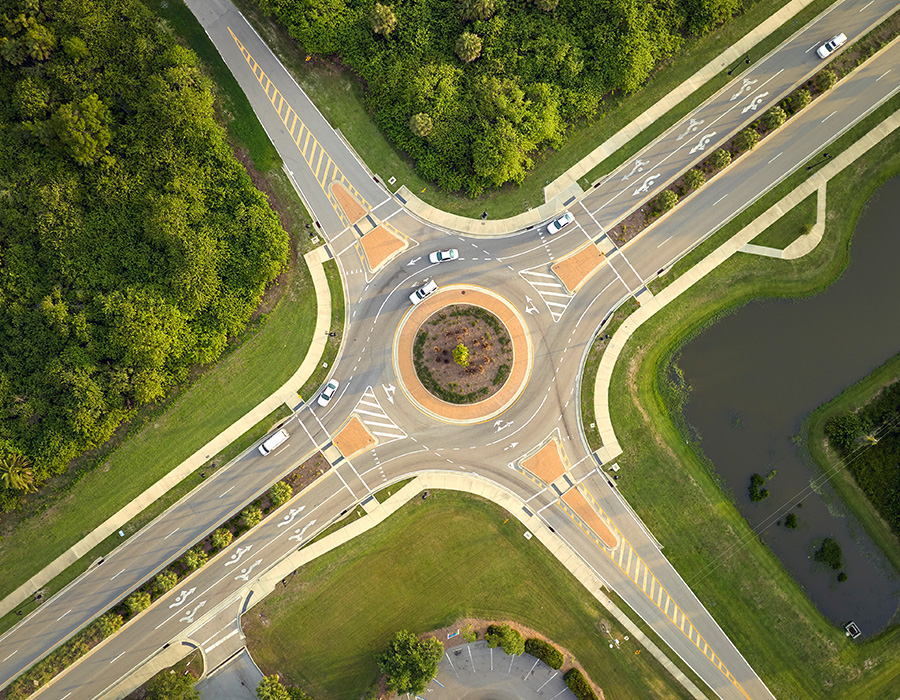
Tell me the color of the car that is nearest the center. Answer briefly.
white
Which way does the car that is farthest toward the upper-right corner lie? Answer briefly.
on a diagonal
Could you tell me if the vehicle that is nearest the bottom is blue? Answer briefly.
No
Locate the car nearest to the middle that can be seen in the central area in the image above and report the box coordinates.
[410,280,438,304]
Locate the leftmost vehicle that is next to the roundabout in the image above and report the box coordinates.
[318,378,340,406]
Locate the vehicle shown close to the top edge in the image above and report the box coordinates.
[817,30,850,59]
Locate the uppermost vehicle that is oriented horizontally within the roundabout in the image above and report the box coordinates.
[430,250,459,263]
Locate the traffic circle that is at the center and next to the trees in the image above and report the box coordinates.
[348,231,579,475]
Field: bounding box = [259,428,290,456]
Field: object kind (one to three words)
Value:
vehicle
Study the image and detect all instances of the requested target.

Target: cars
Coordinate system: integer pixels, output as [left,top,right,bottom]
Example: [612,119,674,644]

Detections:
[318,378,340,406]
[547,212,576,235]
[817,30,850,59]
[410,280,438,304]
[430,250,459,263]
